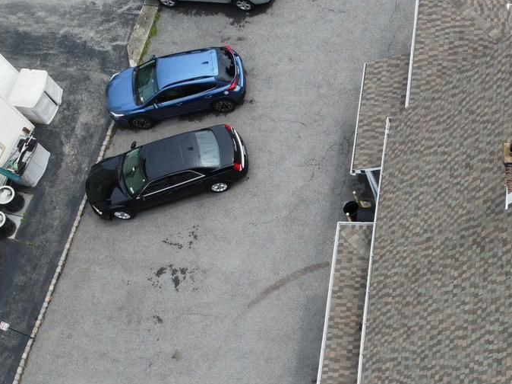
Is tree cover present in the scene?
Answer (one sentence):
No, there's no tree cover in this view.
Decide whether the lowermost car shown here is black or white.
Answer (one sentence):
The color of the lowermost car is black.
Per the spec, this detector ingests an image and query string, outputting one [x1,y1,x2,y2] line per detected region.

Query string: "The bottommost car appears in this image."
[82,121,251,220]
